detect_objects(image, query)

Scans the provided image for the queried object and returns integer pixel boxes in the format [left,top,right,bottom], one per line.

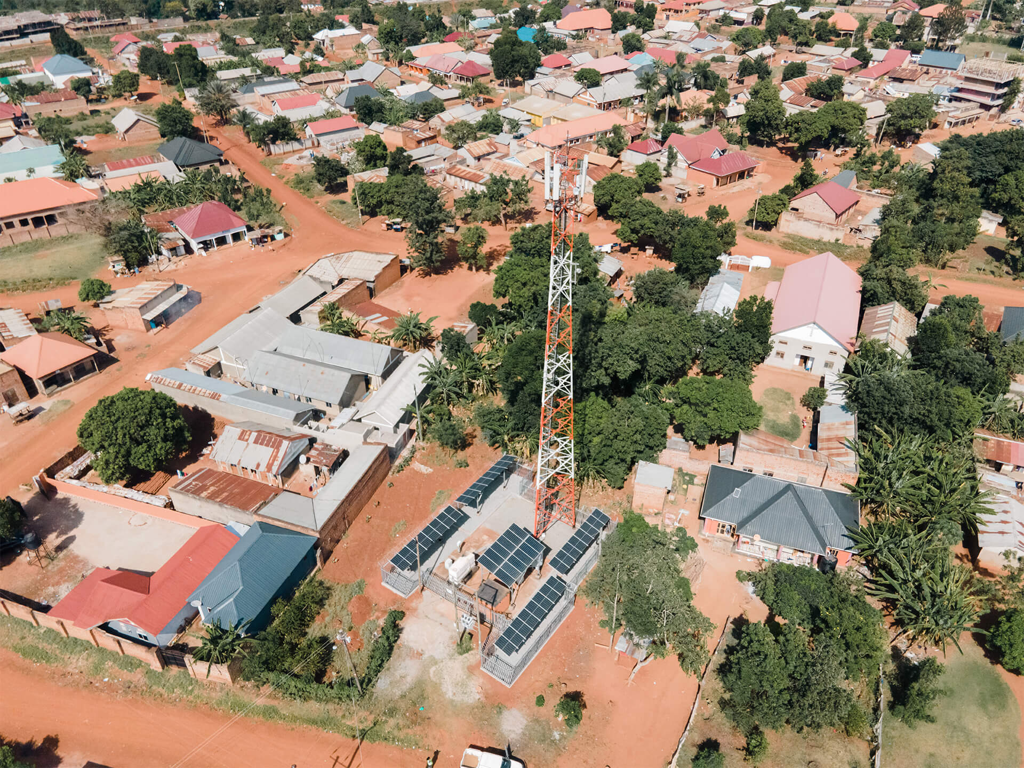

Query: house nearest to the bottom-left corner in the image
[49,565,142,646]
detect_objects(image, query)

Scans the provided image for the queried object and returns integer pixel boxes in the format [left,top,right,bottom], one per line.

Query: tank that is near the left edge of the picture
[15,527,54,571]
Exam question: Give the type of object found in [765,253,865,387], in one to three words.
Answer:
building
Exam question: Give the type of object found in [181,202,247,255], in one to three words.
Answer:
building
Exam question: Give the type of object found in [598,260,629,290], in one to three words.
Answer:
shed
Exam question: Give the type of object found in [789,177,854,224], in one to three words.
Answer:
house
